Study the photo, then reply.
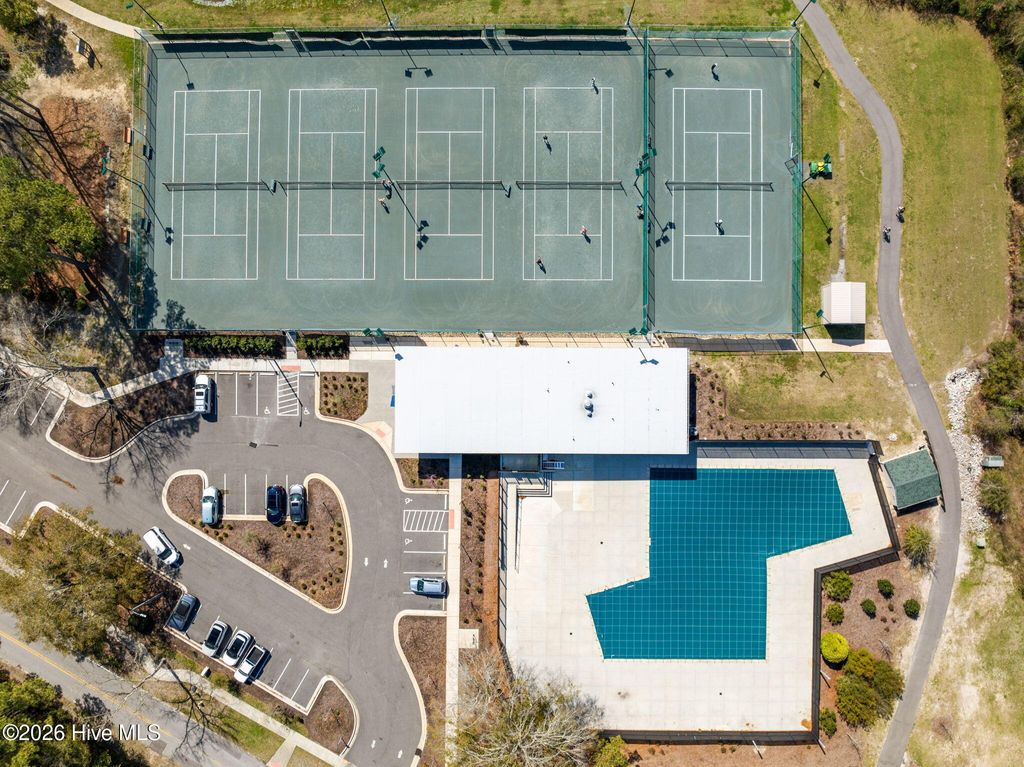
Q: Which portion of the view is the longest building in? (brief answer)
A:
center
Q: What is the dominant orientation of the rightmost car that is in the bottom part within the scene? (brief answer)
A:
from left to right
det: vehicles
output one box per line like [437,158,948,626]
[287,484,307,524]
[143,525,179,567]
[168,591,200,632]
[201,617,231,657]
[200,485,222,525]
[236,641,269,685]
[193,373,215,413]
[222,626,253,667]
[410,576,447,596]
[266,484,286,523]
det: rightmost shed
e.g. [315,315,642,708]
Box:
[879,449,941,508]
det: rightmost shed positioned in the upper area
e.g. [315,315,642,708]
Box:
[822,282,866,324]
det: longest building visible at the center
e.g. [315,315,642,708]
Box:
[394,347,689,454]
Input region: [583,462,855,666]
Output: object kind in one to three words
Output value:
swimming pool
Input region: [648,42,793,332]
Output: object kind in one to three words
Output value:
tennis court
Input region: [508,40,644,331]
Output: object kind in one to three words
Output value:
tennis court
